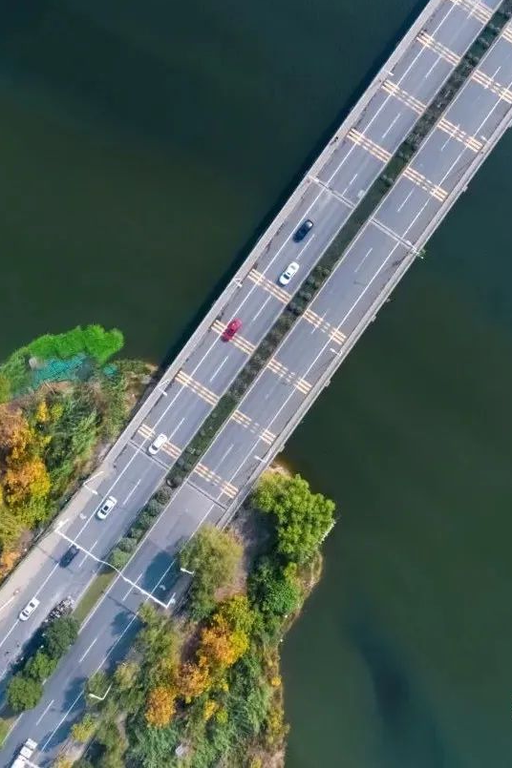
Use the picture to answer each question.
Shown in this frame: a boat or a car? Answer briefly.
car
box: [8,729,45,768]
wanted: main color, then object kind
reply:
white truck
